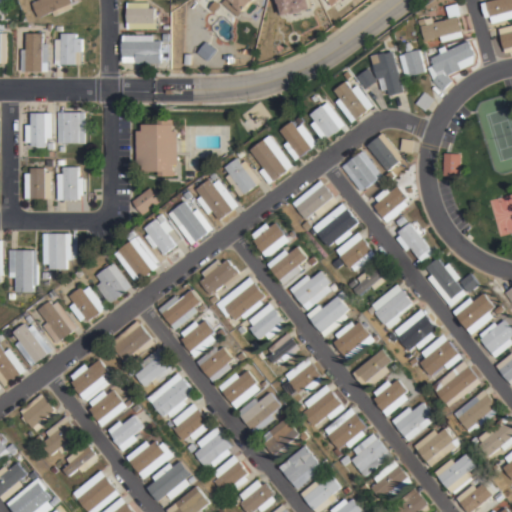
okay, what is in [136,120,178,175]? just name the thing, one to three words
building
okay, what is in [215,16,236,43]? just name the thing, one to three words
swimming pool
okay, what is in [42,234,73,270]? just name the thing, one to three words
house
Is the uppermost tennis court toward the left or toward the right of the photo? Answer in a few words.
right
